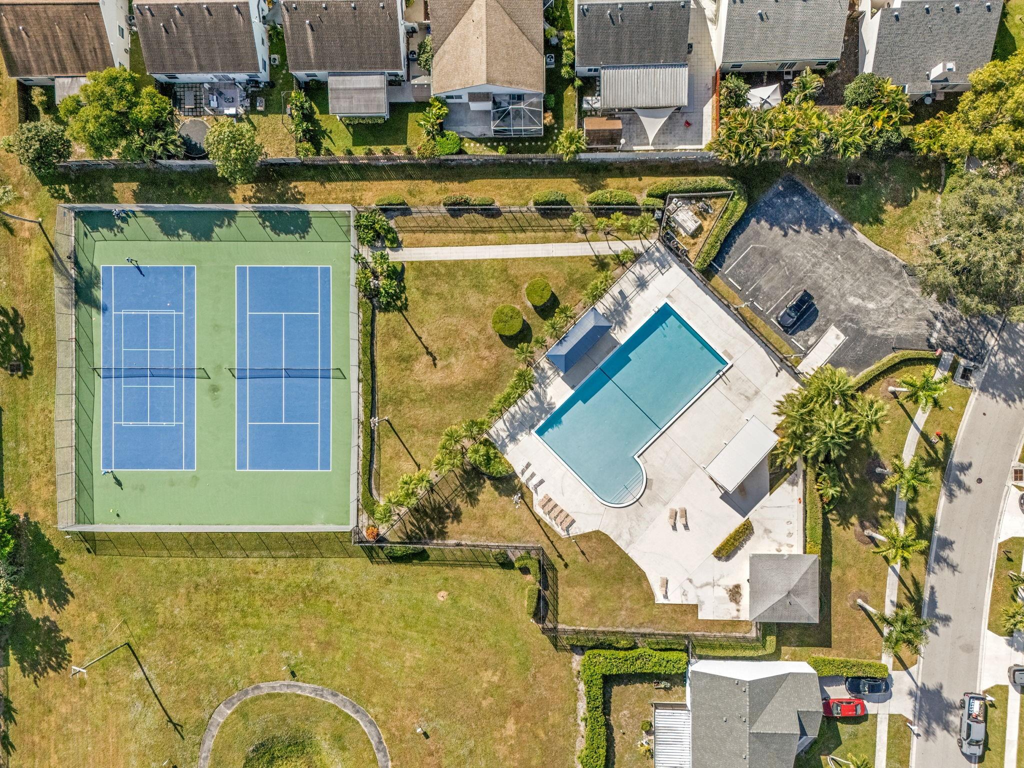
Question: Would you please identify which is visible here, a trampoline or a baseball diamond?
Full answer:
I can see a trampoline in this picture.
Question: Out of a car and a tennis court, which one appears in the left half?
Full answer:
What appears in the left half is a tennis court.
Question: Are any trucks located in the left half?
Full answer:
No, the scene shows no truck in the left half.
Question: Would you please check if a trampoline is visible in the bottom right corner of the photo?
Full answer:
No, I see no trampoline in the bottom right corner of the photo.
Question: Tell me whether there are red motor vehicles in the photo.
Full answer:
Yes, there is a red motor vehicle in the image.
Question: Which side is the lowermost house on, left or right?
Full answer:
The lowermost house sits on the right side.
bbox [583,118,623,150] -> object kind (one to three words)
shed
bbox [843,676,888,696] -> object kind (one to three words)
car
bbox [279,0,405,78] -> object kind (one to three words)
house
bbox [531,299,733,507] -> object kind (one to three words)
swimming pool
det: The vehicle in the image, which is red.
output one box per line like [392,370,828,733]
[821,696,862,717]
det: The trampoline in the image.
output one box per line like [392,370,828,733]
[178,121,211,155]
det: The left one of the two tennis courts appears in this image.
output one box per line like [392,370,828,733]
[75,211,215,525]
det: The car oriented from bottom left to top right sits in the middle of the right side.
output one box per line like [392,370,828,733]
[779,289,815,330]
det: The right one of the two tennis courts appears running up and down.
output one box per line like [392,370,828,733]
[215,211,357,525]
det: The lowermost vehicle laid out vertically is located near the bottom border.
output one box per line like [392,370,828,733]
[961,693,989,753]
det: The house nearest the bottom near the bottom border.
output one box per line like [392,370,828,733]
[688,662,823,768]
